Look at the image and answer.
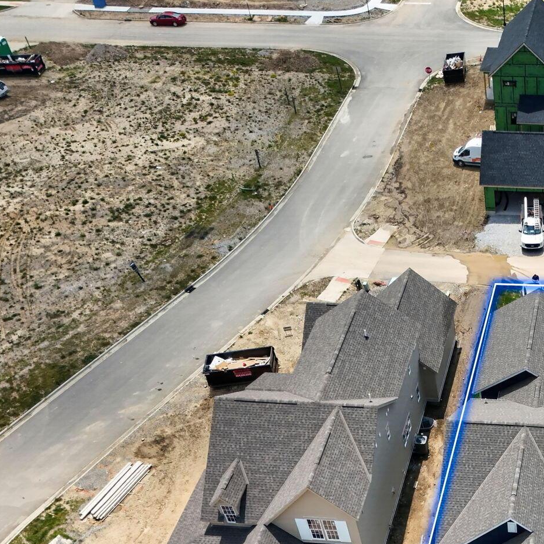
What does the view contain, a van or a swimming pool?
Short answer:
van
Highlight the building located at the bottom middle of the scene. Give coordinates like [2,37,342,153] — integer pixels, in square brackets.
[168,267,458,544]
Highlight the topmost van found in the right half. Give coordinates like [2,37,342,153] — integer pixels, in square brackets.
[451,135,482,166]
